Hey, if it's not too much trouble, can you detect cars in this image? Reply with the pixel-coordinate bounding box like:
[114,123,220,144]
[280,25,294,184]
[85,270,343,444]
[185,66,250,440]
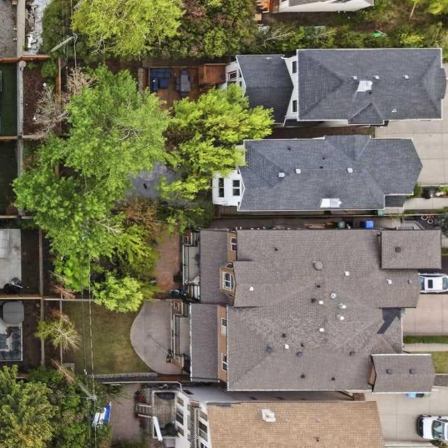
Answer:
[421,271,448,295]
[415,416,448,442]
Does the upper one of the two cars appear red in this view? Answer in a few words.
No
